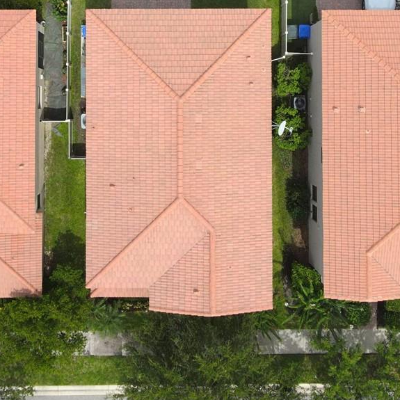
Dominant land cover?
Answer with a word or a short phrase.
buildings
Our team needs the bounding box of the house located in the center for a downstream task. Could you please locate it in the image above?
[84,7,274,318]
